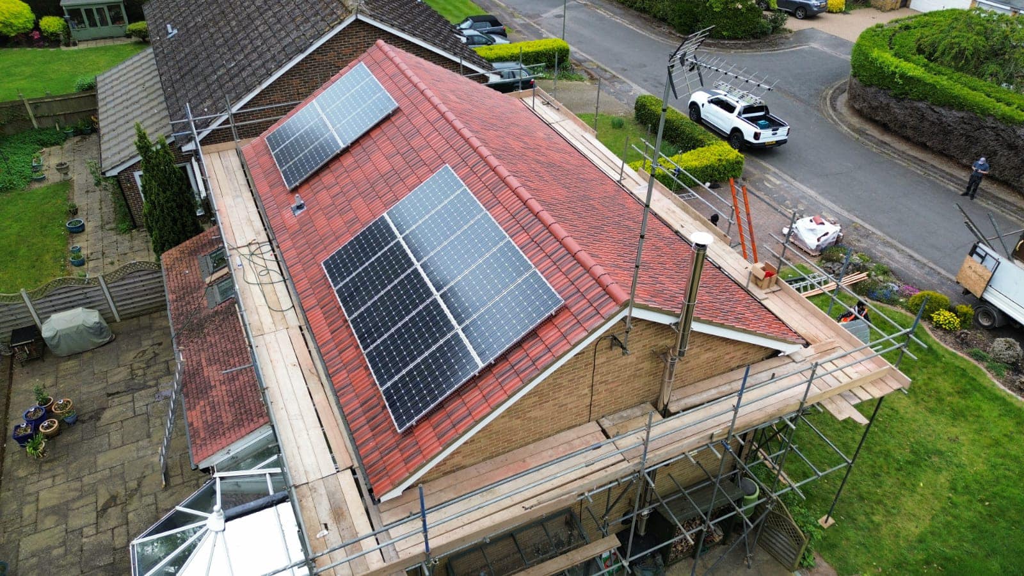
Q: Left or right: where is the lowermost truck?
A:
right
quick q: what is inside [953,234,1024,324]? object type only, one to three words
truck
